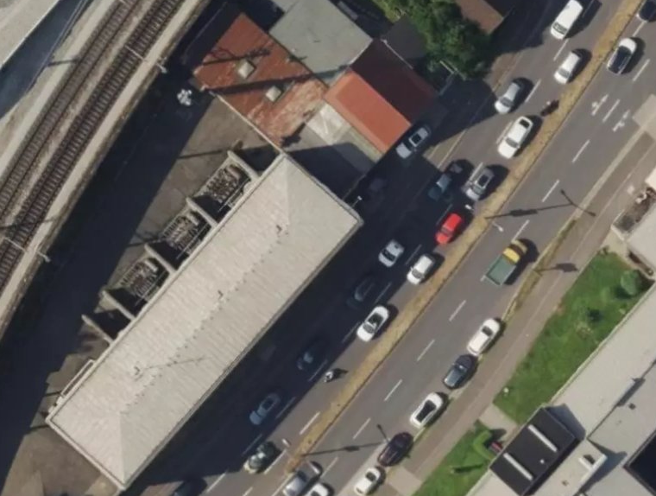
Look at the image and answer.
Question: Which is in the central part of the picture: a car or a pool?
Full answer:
You can see a car in the central part of the picture.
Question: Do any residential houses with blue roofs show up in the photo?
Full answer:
No, the scene contains no residential house with a blue roof.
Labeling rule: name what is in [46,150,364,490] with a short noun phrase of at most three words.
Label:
building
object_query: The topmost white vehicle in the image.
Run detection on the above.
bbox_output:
[551,0,584,39]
